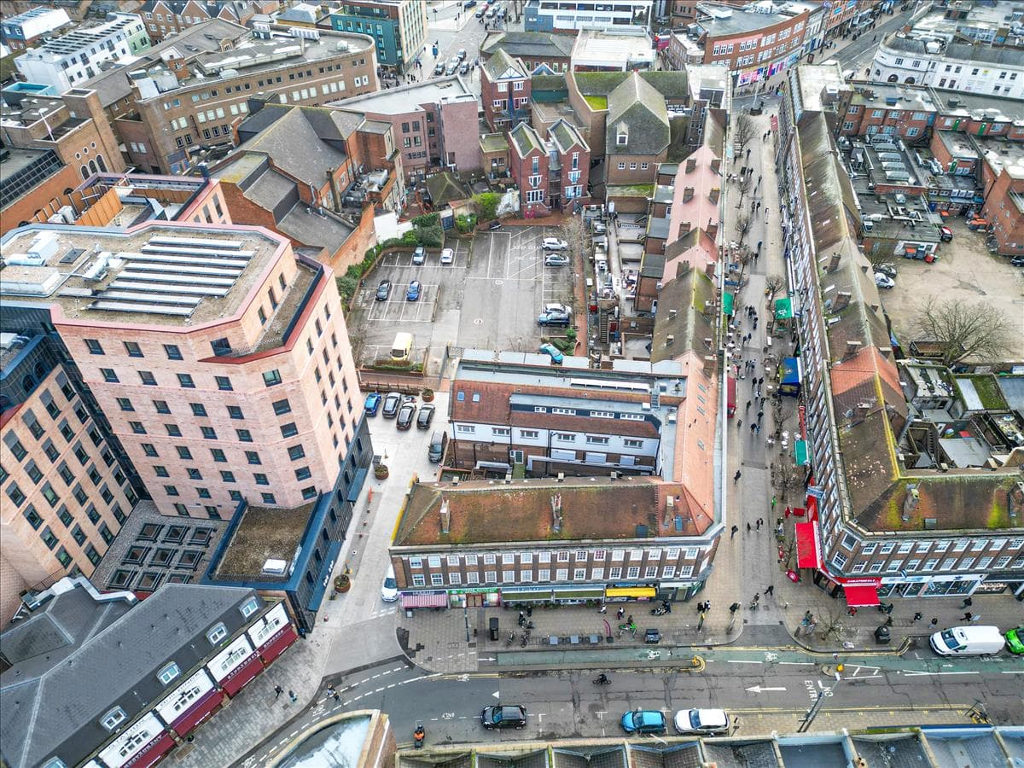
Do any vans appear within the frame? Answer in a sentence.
Yes, there is a van in the image.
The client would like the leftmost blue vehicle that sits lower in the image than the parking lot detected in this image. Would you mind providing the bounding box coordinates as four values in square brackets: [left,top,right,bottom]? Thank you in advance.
[362,392,383,418]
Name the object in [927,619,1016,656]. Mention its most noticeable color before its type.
white van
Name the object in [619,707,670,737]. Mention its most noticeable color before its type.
blue car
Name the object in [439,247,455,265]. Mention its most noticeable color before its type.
white car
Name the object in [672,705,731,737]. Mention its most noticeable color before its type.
white car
